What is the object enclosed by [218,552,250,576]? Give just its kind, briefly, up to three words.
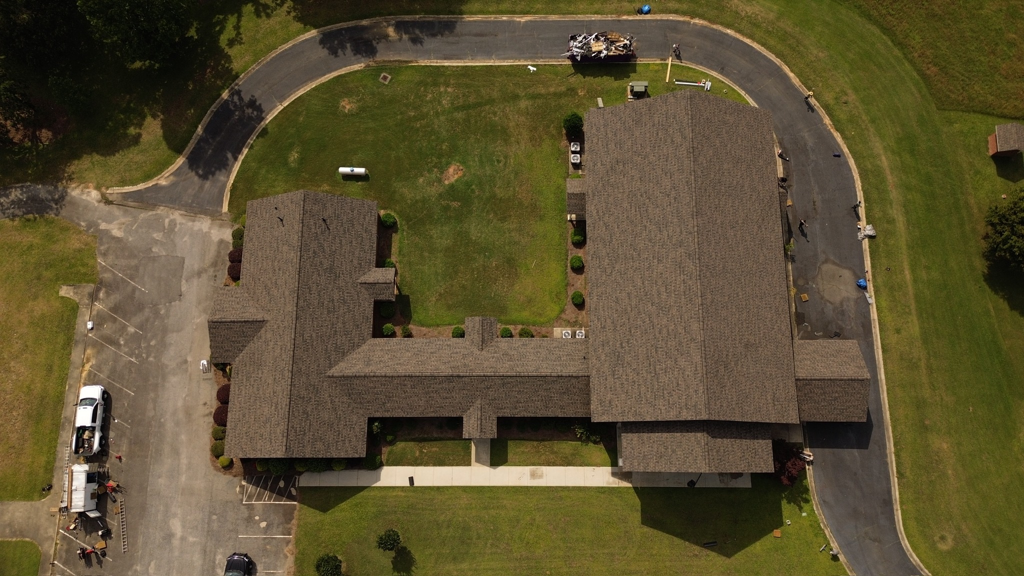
car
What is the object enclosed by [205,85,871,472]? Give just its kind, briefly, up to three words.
building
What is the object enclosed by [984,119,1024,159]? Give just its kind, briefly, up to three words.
shed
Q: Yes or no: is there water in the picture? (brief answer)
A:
No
